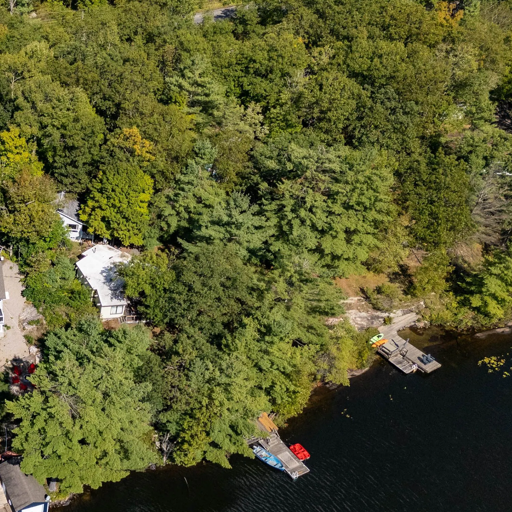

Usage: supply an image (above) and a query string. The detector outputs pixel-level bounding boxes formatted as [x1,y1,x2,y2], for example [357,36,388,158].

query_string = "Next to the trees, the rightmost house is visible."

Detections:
[78,244,134,324]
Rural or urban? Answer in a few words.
rural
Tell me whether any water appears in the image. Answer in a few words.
Yes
